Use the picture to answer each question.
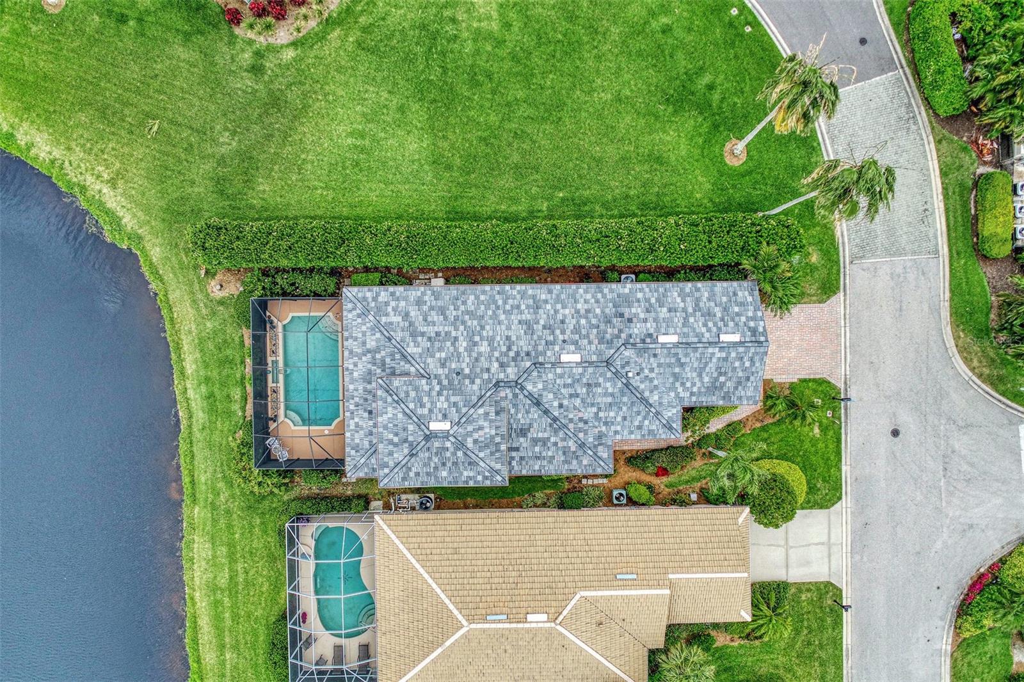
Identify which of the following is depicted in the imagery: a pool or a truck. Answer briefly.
pool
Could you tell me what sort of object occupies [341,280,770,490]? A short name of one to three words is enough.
house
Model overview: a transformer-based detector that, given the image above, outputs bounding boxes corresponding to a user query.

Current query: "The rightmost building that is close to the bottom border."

[372,505,753,682]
